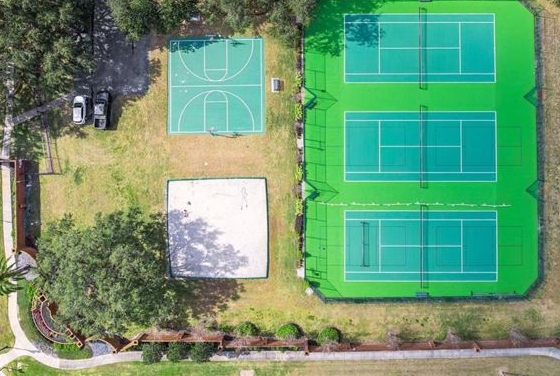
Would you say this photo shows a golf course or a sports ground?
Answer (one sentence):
The area seen from above is a sports ground.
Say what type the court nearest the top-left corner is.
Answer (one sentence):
It looks like the court nearest the top-left corner is a basketball court.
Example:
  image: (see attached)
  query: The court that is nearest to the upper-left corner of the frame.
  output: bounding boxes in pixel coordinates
[168,36,266,134]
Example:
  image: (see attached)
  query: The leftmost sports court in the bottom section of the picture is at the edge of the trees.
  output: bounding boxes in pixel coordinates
[168,178,269,279]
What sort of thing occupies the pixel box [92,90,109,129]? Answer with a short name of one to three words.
vehicle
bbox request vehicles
[92,90,109,129]
[71,96,87,124]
